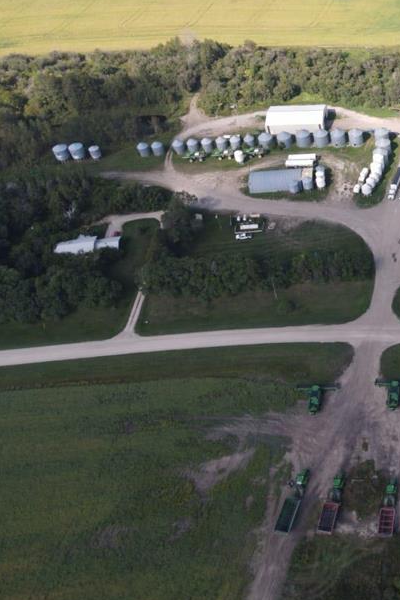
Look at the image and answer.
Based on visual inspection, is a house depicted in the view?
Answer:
Yes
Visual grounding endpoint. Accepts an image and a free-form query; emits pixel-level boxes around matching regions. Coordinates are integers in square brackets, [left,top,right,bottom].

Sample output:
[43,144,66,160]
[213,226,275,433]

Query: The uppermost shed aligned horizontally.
[264,104,329,137]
